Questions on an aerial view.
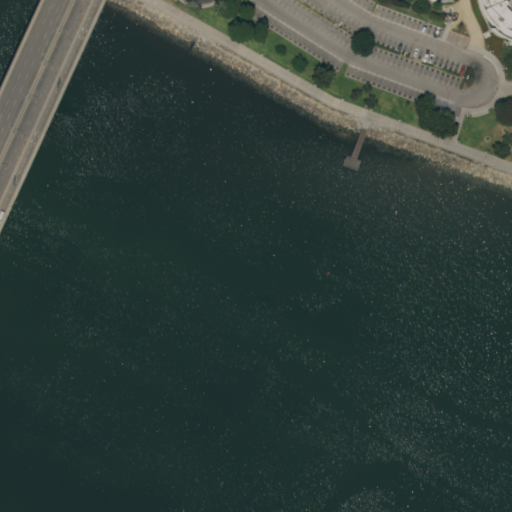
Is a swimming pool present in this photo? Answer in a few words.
No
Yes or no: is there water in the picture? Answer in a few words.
Yes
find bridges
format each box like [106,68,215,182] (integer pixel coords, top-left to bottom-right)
[0,0,106,234]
